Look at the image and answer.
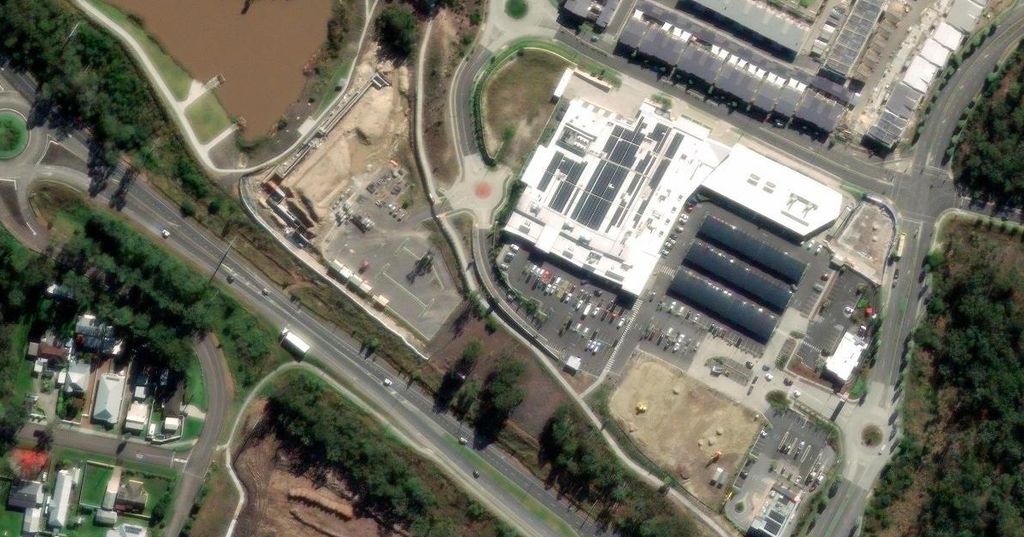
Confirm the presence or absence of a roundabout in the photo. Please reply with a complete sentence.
Yes, the frame does contain a roundabout.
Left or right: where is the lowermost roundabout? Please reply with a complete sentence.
The lowermost roundabout is on the right side of the image.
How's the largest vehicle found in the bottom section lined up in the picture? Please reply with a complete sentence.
In this picture, the largest vehicle found in the bottom section is oriented on a diagonal.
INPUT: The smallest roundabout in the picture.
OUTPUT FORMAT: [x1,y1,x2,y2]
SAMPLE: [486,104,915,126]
[463,170,503,209]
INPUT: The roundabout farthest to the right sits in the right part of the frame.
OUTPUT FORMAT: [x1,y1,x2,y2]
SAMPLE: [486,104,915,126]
[844,408,900,464]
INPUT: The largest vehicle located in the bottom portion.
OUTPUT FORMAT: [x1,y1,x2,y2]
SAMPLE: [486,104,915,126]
[283,333,311,355]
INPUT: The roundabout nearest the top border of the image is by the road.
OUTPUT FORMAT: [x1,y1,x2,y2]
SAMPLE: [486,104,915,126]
[484,0,549,39]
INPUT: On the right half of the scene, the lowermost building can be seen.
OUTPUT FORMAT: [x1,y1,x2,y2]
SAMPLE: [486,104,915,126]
[743,487,801,537]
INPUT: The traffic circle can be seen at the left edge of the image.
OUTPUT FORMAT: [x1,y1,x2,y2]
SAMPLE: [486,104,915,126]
[0,90,45,179]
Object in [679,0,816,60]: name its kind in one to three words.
building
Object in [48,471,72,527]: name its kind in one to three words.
house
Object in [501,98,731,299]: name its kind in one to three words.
building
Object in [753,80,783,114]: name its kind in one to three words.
house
